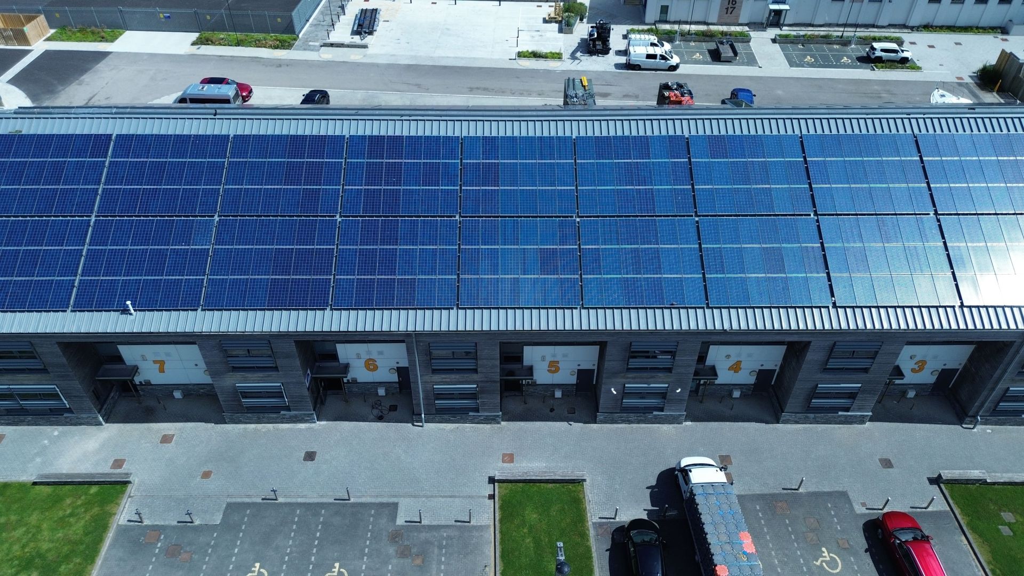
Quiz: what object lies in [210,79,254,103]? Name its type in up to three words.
car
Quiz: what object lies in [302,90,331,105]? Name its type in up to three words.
car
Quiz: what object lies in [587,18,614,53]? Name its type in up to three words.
work vehicle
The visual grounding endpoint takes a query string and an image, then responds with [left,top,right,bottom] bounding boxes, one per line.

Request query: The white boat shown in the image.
[923,81,980,106]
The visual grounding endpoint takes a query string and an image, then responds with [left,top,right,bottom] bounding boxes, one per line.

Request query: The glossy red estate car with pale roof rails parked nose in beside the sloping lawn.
[876,509,954,576]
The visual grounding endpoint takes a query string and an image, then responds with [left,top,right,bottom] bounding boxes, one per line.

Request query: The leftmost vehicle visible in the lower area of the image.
[622,517,673,576]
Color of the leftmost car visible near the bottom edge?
black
